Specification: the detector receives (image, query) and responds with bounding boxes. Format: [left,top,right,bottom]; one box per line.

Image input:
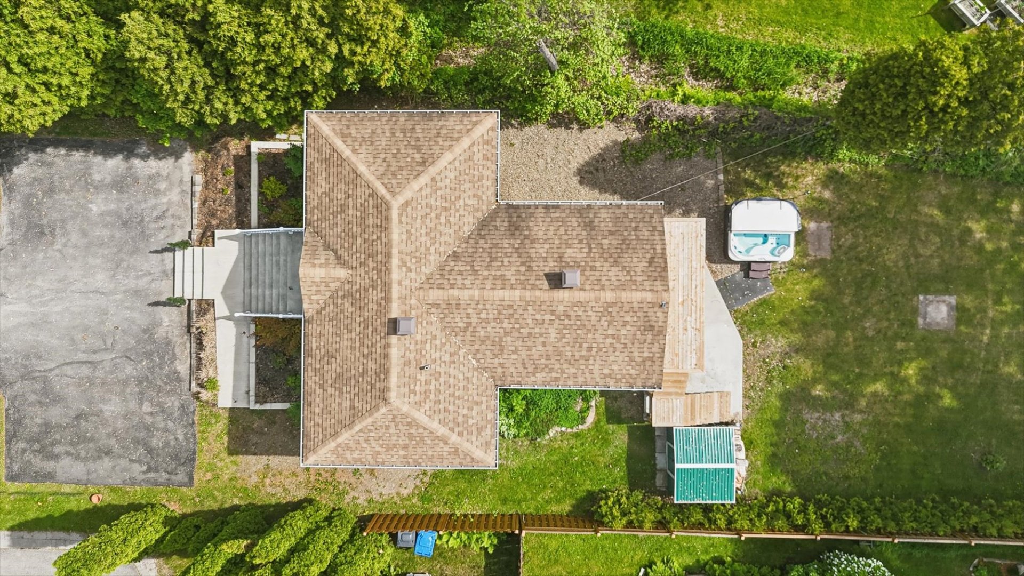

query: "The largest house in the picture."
[297,110,670,469]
